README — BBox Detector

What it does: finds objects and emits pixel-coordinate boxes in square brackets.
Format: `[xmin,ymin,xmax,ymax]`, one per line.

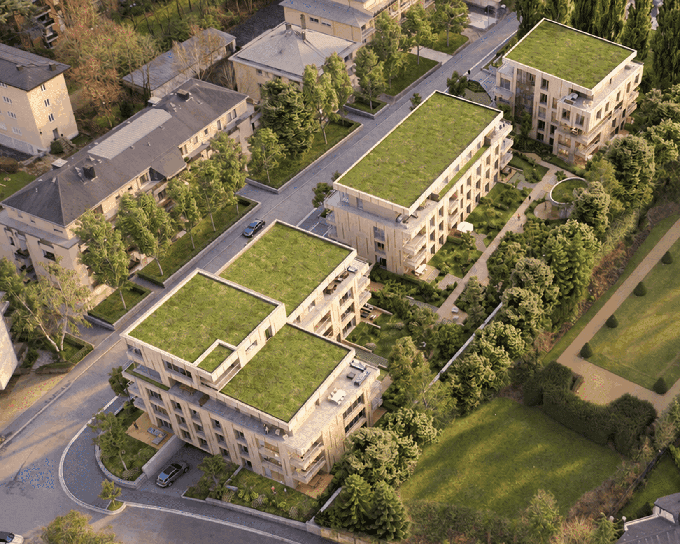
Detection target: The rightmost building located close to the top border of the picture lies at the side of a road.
[491,19,645,172]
